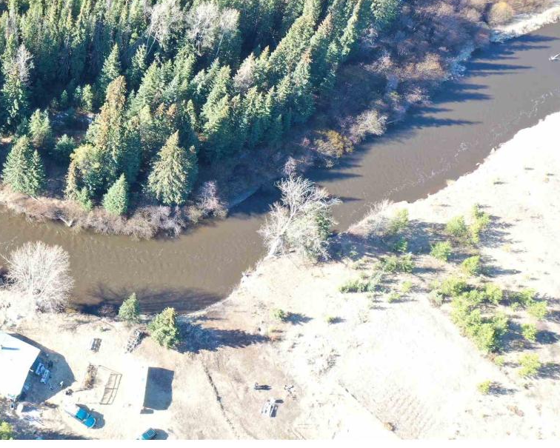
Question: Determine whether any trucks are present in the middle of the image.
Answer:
No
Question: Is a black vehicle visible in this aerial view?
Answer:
No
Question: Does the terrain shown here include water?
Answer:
Yes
